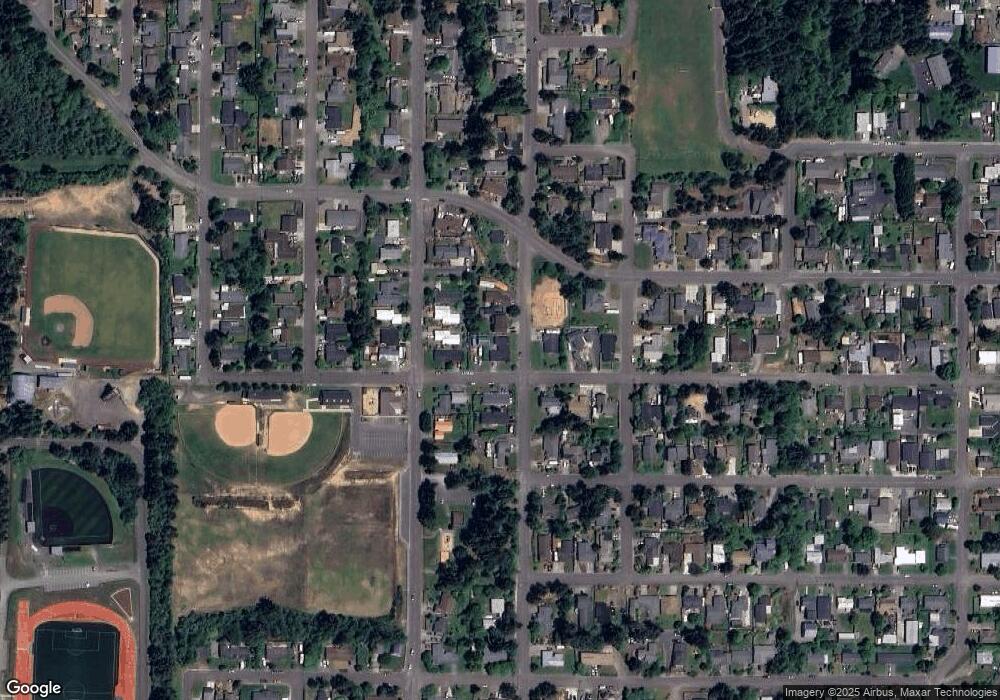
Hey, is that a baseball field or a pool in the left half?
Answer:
baseball field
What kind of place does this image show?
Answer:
residential area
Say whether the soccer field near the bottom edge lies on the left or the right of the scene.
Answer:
left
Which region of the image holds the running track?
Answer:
bottom left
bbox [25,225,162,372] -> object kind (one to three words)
baseball field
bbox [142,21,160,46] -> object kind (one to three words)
house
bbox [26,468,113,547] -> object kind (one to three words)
baseball field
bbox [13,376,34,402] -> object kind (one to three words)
building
